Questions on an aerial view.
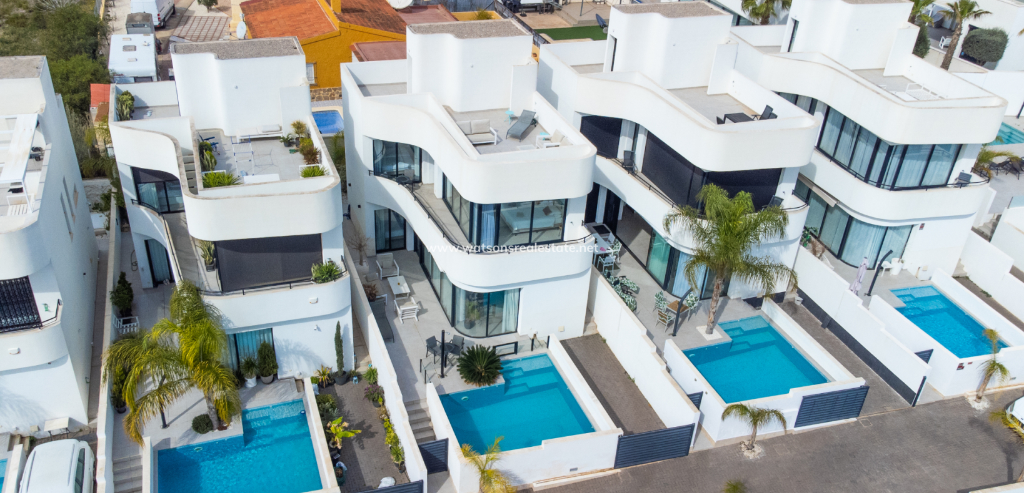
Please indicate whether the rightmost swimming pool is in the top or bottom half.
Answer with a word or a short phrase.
top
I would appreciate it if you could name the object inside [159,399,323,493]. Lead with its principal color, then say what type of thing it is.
blue swimming pool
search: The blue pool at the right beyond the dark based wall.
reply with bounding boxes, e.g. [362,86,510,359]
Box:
[891,285,1007,356]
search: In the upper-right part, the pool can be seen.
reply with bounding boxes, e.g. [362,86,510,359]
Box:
[995,121,1024,148]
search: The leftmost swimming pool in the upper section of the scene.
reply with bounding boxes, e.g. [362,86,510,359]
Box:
[313,107,345,142]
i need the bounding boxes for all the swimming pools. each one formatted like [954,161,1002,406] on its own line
[159,399,323,493]
[891,285,1007,356]
[313,107,345,142]
[995,121,1024,148]
[691,314,826,400]
[443,353,594,456]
